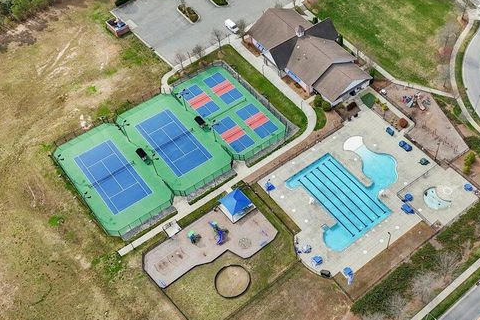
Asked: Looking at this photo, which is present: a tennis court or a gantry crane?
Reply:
tennis court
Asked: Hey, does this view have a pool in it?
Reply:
Yes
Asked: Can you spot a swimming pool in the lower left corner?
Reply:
No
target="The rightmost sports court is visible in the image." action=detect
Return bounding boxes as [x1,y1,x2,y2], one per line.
[236,103,279,139]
